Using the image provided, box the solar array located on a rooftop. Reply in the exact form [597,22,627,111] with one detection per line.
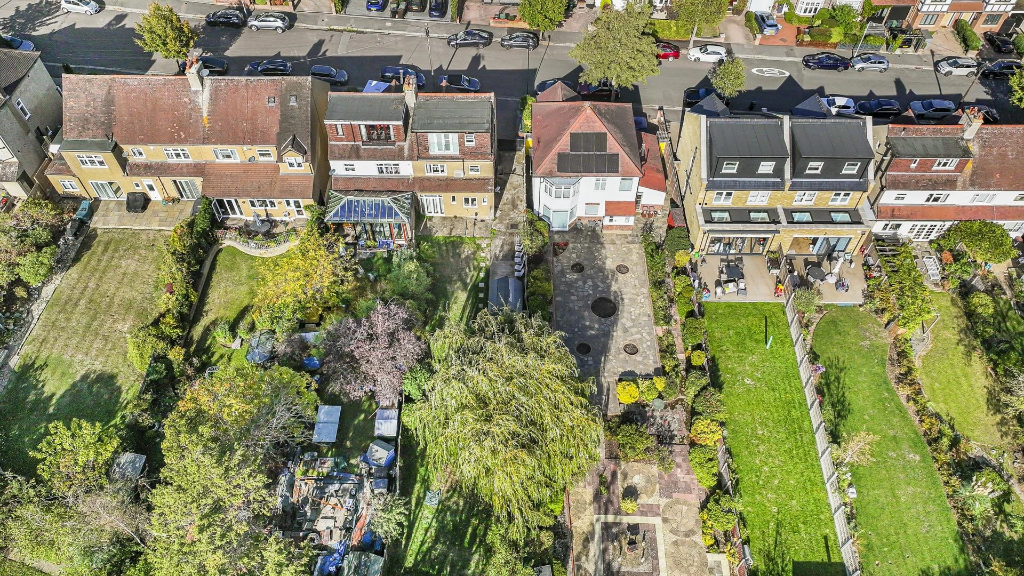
[558,132,619,172]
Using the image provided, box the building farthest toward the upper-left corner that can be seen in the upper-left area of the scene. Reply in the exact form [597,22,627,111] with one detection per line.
[0,40,57,177]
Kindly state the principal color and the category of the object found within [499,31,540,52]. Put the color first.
gray car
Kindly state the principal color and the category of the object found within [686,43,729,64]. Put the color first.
white car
